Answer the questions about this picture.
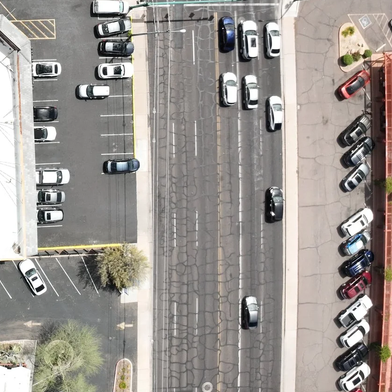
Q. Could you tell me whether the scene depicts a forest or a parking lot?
parking lot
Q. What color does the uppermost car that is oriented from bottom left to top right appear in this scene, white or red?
red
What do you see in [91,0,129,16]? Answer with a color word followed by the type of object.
white vehicle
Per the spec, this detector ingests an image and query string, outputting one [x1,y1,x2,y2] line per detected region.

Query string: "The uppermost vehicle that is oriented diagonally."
[334,68,370,101]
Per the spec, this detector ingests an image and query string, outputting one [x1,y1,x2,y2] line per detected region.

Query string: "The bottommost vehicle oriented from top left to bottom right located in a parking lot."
[18,258,49,296]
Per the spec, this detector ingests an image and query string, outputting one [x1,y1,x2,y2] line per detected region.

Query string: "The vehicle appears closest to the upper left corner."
[31,62,62,77]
